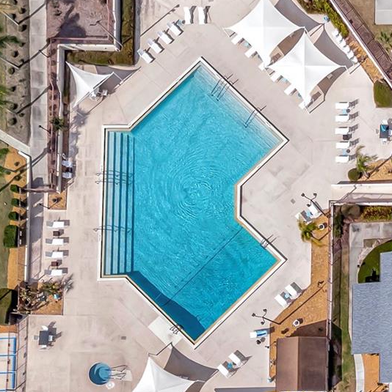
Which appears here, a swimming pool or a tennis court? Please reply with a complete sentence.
The image shows a swimming pool.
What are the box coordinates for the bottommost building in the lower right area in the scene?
[276,337,330,392]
